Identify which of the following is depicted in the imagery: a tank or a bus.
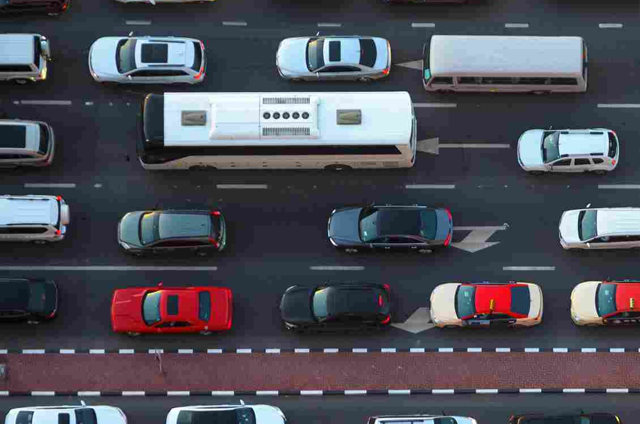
bus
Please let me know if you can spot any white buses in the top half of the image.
Yes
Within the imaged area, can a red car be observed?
Yes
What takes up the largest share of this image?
paved ground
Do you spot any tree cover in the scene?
No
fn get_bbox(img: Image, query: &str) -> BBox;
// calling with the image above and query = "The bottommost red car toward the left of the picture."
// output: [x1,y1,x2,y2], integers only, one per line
[110,280,232,337]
